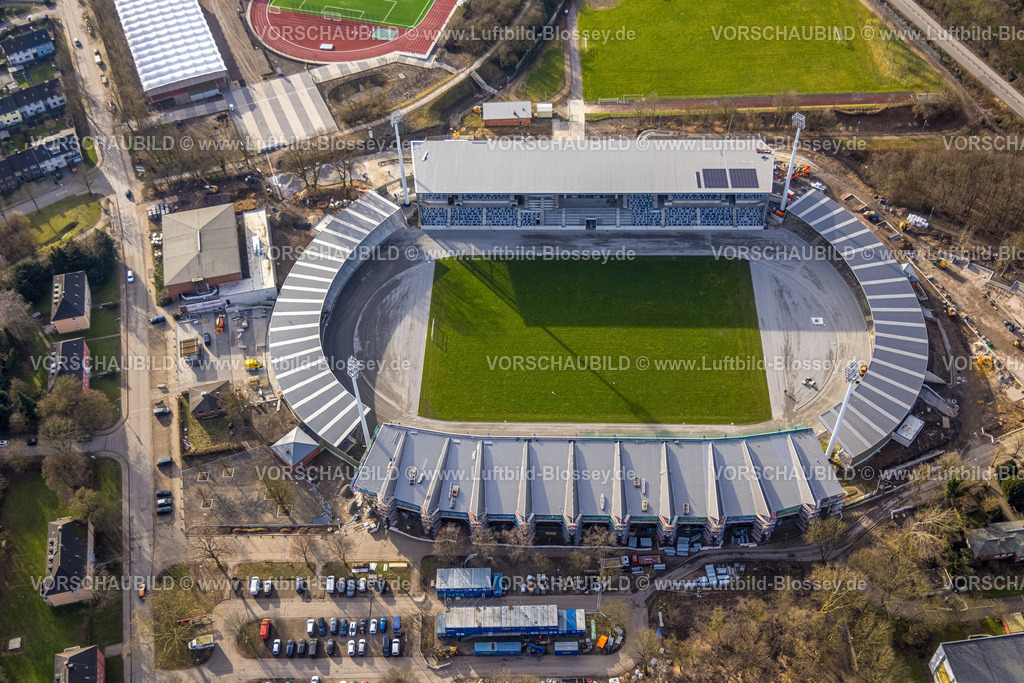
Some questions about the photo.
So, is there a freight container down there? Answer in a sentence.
Yes, the photo shows a freight container.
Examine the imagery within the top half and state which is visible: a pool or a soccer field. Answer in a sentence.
What appears within the top half is a soccer field.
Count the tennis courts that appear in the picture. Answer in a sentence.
The picture shows no tennis courts.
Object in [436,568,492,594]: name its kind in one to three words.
shipping container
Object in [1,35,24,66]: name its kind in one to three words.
house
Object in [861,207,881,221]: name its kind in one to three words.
vehicle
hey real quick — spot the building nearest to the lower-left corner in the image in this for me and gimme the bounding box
[53,640,102,683]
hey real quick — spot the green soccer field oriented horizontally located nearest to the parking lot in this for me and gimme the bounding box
[419,257,772,423]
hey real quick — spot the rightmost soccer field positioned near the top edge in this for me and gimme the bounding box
[579,0,943,102]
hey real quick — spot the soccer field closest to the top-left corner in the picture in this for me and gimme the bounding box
[273,0,431,27]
